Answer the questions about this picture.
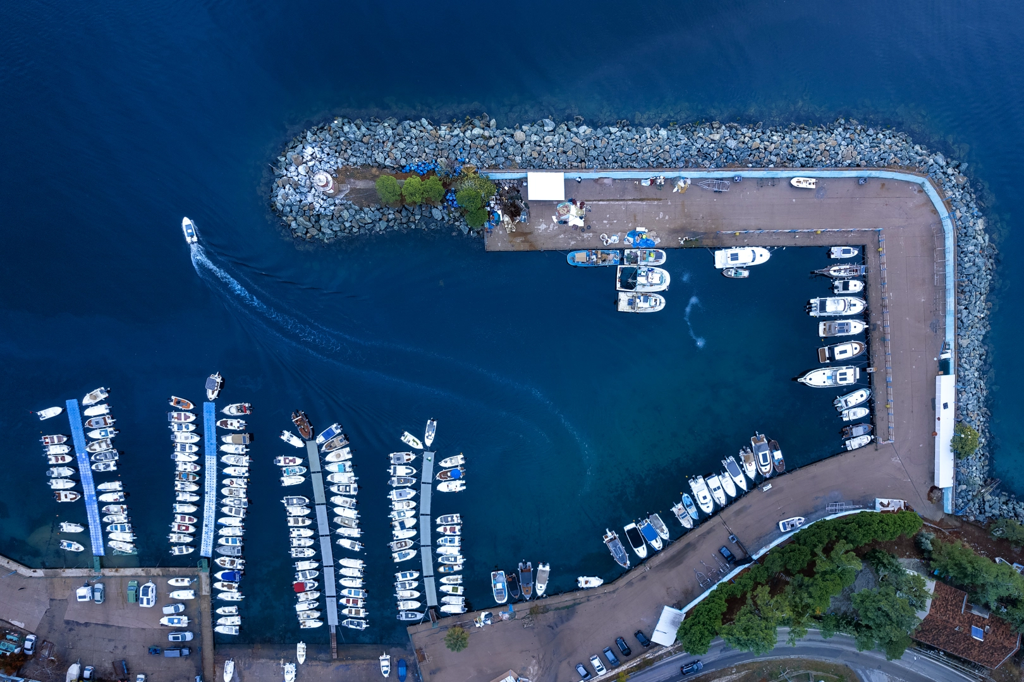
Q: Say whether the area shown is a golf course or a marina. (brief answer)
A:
marina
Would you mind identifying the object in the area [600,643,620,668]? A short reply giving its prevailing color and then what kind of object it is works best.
blue car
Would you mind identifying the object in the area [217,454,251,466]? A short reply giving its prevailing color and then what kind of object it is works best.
white boat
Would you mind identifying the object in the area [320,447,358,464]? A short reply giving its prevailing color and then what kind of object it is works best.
white boat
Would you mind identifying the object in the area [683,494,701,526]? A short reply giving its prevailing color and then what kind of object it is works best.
blue boat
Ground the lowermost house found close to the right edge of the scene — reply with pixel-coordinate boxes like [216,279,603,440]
[900,570,1019,670]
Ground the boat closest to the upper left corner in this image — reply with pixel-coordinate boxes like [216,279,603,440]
[183,217,198,249]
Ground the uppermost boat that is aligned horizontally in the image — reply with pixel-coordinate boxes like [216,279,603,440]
[790,177,822,189]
